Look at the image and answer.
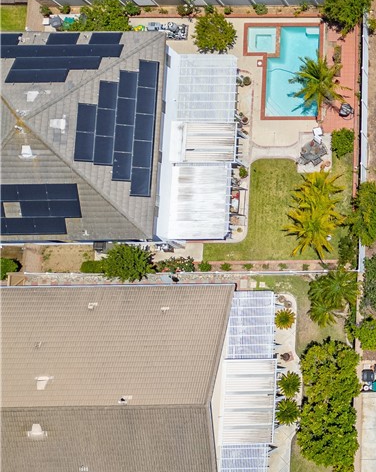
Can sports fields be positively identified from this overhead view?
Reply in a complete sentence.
No, there is no sports field in the image.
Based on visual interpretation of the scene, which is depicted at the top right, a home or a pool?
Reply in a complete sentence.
Visible at the top right is a pool.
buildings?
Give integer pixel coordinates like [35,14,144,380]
[0,30,184,247]
[0,283,235,472]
